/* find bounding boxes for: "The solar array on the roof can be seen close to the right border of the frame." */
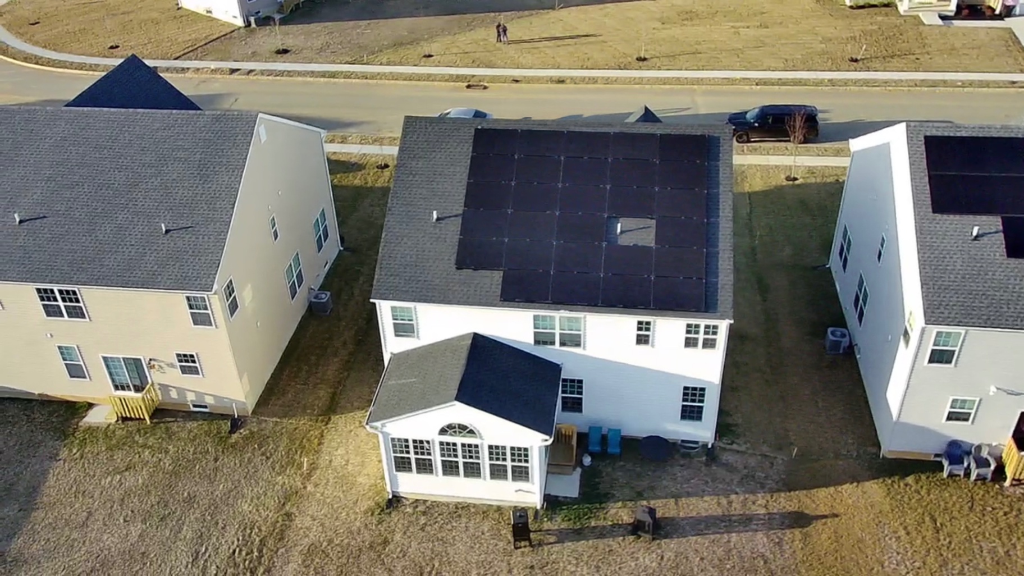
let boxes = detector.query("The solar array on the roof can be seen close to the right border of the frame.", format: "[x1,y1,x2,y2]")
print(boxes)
[926,133,1024,260]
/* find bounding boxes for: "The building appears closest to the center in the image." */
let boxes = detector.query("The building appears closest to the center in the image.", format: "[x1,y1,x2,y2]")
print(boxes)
[361,105,735,525]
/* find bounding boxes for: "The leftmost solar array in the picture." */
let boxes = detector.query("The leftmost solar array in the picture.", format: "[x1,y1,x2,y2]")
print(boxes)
[455,128,708,312]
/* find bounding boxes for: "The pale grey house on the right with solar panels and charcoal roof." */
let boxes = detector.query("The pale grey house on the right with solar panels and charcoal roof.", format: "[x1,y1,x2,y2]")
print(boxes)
[822,123,1024,464]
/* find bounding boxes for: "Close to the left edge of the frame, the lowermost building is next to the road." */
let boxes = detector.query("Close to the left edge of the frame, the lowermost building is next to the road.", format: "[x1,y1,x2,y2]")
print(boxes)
[0,54,350,437]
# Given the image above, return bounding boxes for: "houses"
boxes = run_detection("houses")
[190,0,338,27]
[361,105,735,525]
[843,0,1024,20]
[0,54,350,437]
[822,123,1024,464]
